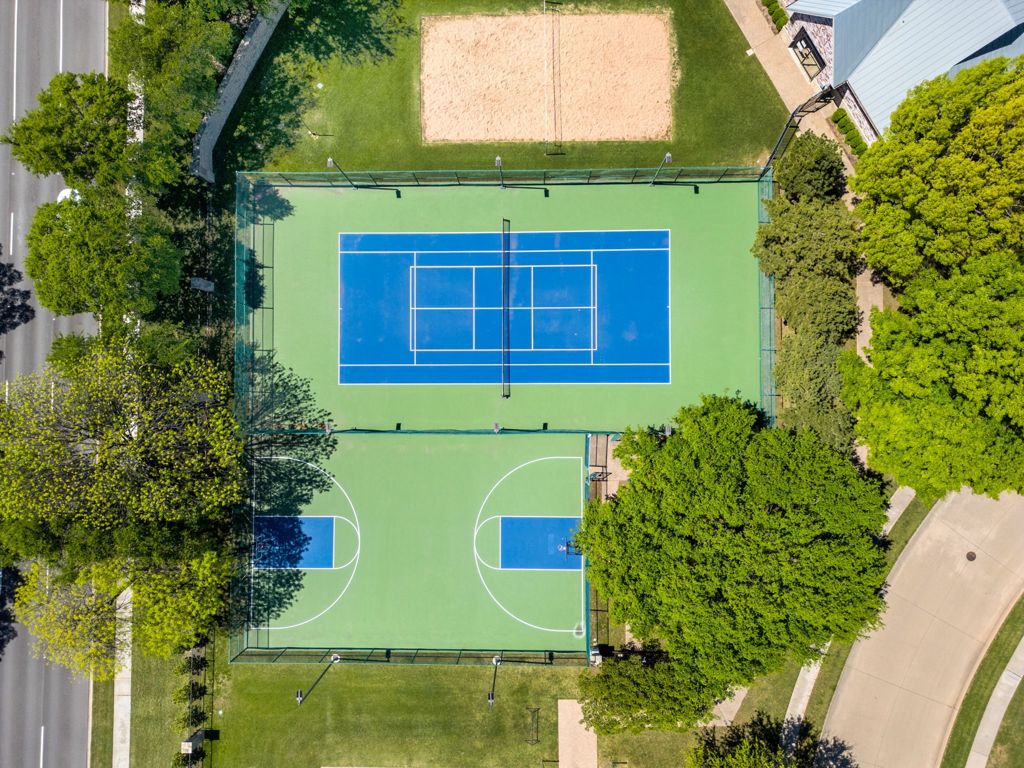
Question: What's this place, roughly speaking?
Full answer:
It's a sports ground.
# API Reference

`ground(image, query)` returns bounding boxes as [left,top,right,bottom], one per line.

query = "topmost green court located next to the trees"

[249,179,763,431]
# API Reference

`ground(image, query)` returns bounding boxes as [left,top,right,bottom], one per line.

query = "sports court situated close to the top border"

[421,13,672,143]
